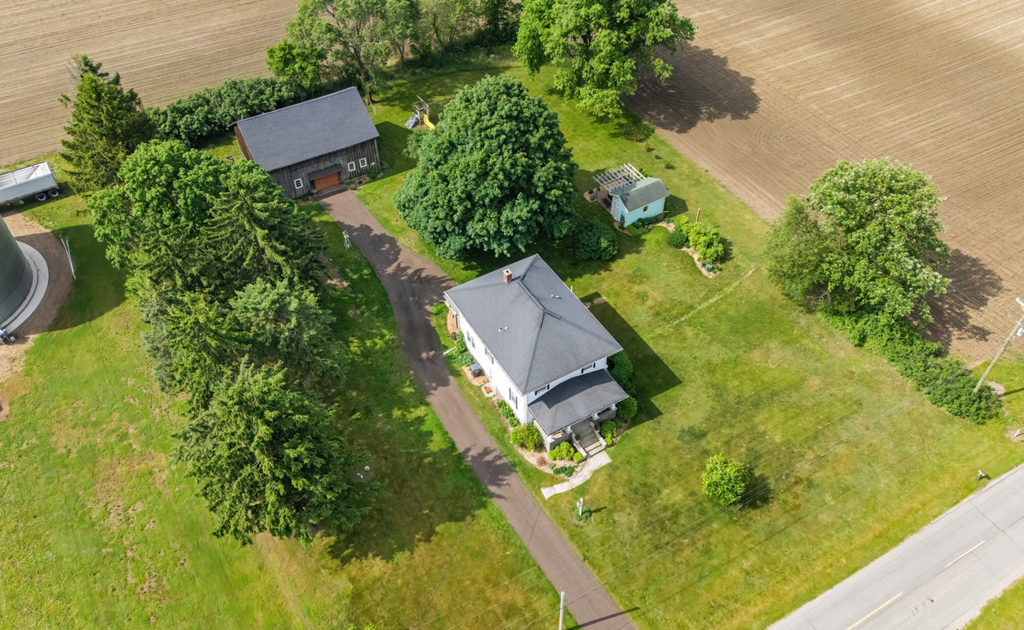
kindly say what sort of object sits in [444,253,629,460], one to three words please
house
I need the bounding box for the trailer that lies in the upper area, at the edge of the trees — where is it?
[0,160,63,211]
